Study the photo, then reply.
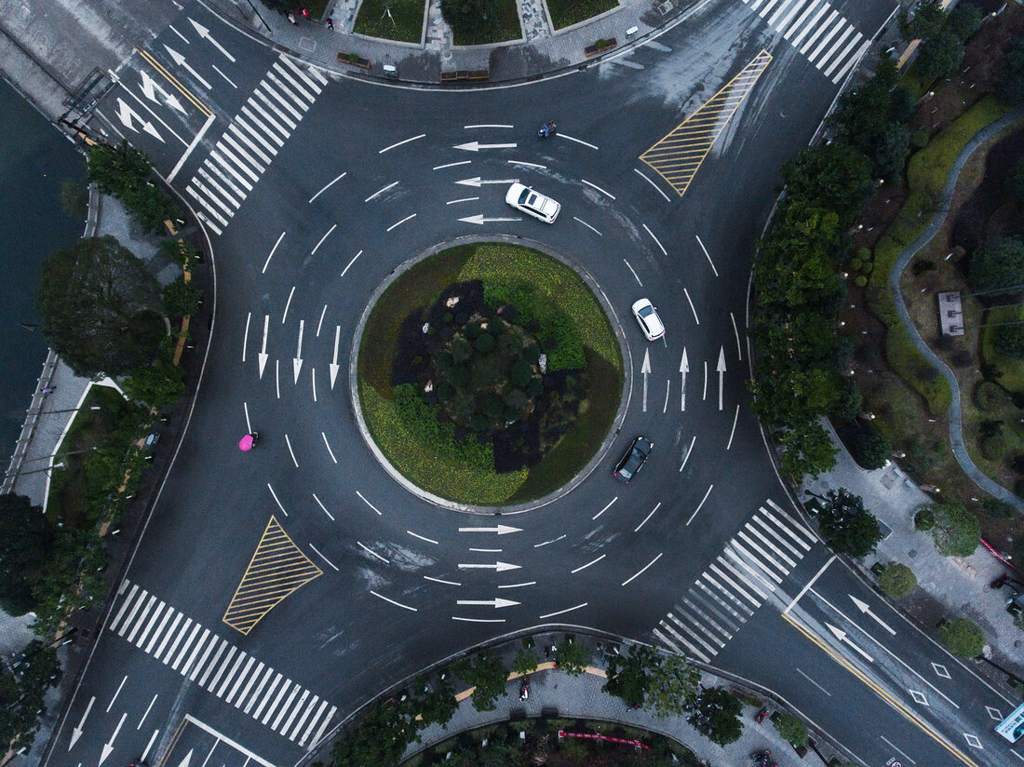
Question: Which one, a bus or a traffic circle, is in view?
traffic circle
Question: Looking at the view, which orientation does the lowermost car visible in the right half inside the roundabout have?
at an angle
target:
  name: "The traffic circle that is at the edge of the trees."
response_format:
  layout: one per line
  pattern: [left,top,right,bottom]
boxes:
[232,116,751,631]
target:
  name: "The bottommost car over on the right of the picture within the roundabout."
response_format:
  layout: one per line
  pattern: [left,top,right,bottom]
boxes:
[613,435,654,485]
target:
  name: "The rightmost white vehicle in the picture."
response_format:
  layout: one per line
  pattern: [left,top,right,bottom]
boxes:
[633,296,666,343]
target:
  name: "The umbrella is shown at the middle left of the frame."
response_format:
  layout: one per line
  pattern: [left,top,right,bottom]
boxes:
[239,433,254,452]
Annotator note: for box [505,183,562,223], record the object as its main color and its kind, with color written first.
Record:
white car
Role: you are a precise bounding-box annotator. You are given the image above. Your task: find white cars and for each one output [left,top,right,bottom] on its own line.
[505,183,562,223]
[633,296,666,343]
